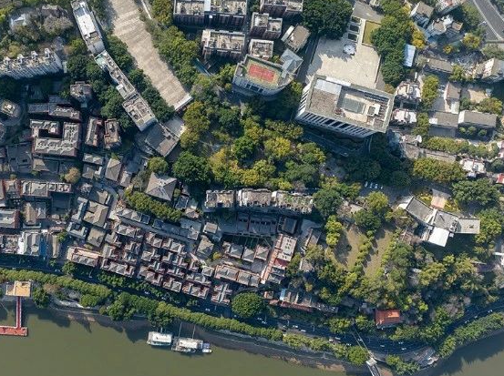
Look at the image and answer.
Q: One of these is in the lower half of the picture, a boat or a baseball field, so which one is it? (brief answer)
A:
boat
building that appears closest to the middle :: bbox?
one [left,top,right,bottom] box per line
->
[234,190,273,210]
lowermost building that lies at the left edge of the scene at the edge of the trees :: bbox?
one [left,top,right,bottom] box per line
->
[6,281,31,296]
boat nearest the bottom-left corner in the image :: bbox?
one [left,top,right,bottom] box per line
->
[147,329,173,346]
